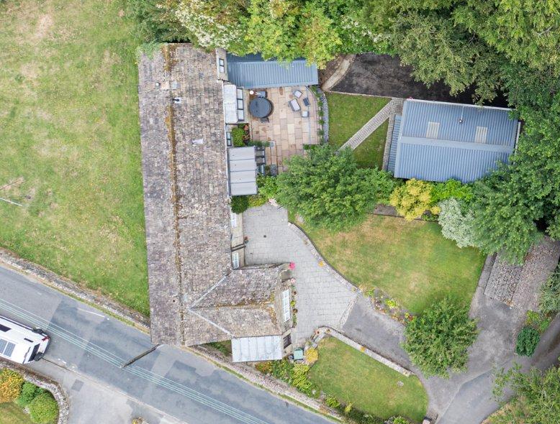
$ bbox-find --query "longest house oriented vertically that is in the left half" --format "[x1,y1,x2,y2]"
[137,38,290,350]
